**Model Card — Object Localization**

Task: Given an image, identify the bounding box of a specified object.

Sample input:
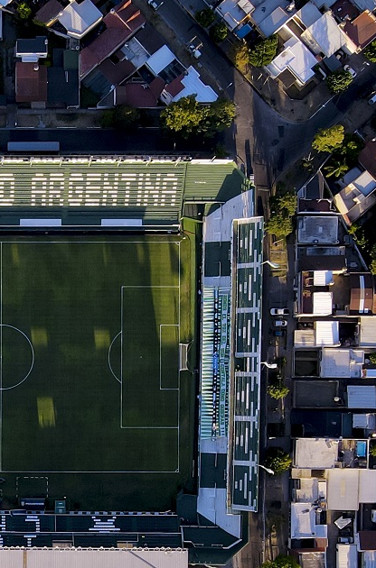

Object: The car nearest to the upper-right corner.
[343,65,356,78]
